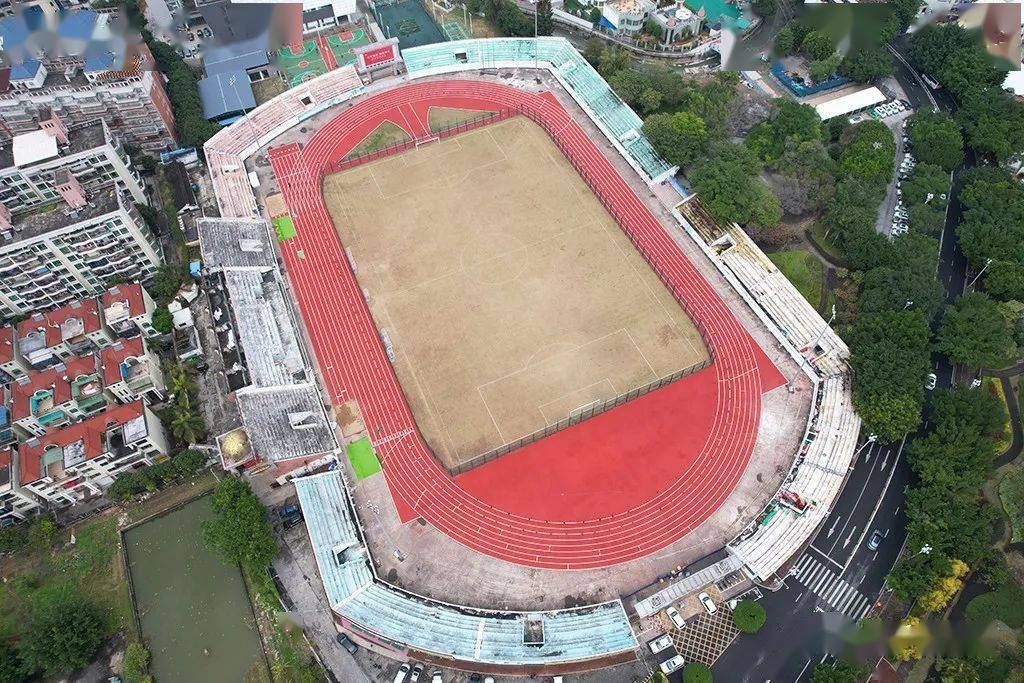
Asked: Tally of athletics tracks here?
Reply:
1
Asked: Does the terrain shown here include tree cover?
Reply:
Yes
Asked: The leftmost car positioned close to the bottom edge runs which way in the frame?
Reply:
on a diagonal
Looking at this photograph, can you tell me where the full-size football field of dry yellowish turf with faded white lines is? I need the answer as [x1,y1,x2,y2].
[318,113,718,477]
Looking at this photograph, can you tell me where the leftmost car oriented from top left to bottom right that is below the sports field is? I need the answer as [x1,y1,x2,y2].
[334,631,358,656]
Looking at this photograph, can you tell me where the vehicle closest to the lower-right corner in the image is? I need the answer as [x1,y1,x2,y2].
[868,526,887,550]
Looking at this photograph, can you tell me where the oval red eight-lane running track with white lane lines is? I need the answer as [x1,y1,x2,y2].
[266,80,792,569]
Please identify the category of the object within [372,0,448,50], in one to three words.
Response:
sports court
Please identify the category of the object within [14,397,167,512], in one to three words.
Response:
house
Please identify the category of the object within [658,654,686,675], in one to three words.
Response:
car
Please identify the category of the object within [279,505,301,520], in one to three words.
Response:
car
